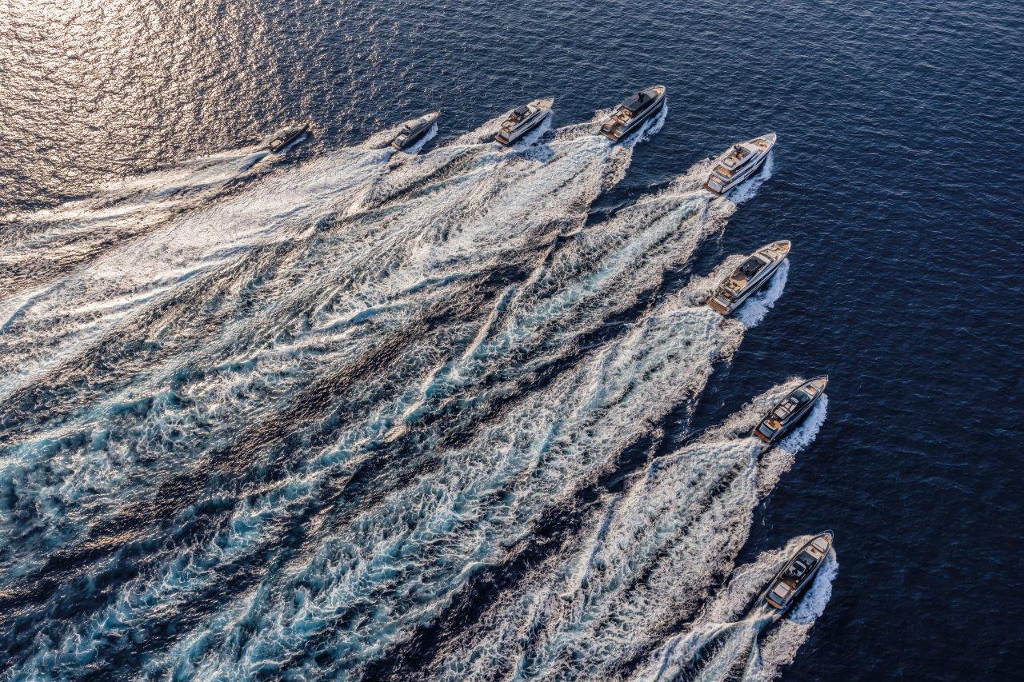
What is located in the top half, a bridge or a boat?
boat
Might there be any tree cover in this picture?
No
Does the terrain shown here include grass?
No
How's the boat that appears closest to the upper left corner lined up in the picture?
diagonally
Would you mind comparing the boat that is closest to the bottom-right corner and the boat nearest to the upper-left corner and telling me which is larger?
the boat that is closest to the bottom-right corner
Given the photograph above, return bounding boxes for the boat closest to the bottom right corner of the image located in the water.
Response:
[764,533,833,613]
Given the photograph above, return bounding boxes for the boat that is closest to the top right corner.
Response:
[703,128,777,197]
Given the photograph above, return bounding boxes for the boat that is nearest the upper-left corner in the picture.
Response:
[268,122,307,152]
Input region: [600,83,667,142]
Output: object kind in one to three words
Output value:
boat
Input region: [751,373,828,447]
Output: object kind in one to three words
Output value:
boat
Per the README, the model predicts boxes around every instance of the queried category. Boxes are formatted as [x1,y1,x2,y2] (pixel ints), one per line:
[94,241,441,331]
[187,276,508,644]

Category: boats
[764,533,833,613]
[751,373,828,447]
[600,83,667,142]
[268,122,307,152]
[703,128,777,197]
[706,239,792,316]
[494,94,554,146]
[390,108,440,151]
